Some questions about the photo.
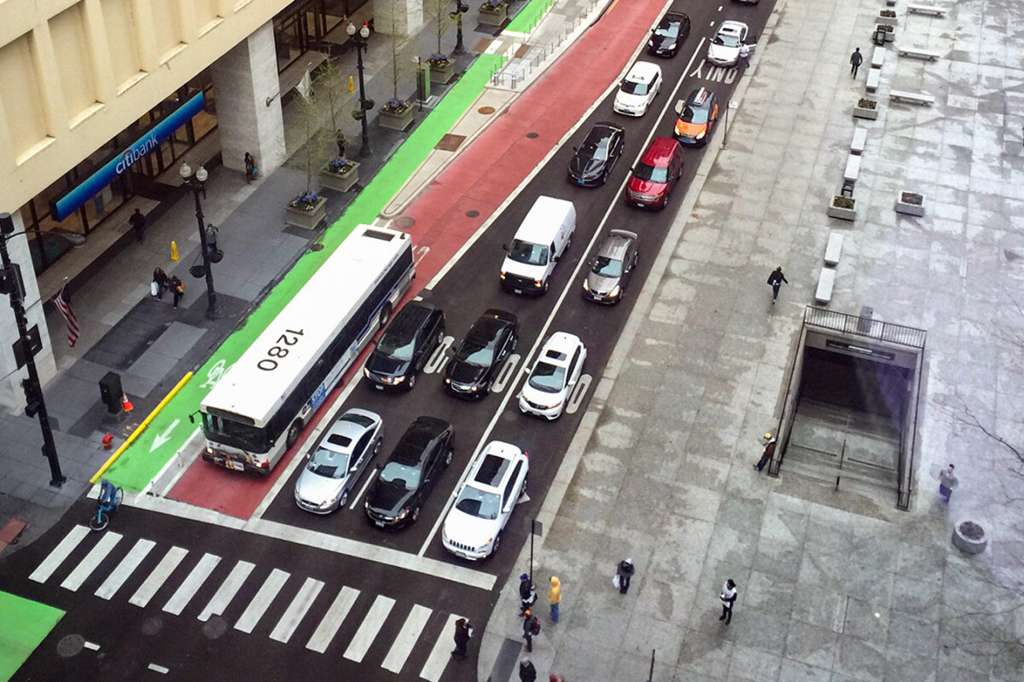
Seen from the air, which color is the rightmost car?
white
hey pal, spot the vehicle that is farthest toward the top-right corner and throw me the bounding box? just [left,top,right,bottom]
[707,21,761,67]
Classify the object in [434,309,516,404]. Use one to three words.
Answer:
car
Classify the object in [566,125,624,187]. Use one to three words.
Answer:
car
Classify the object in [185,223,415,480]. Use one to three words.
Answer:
bus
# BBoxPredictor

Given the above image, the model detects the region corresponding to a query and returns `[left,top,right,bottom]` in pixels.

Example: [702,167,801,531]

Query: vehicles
[613,59,661,114]
[494,197,575,298]
[354,414,454,534]
[359,295,448,395]
[566,125,624,187]
[623,137,684,211]
[707,21,761,67]
[283,405,382,517]
[436,442,530,565]
[434,309,516,404]
[644,13,687,56]
[512,327,590,422]
[578,227,640,306]
[185,223,415,480]
[659,92,720,149]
